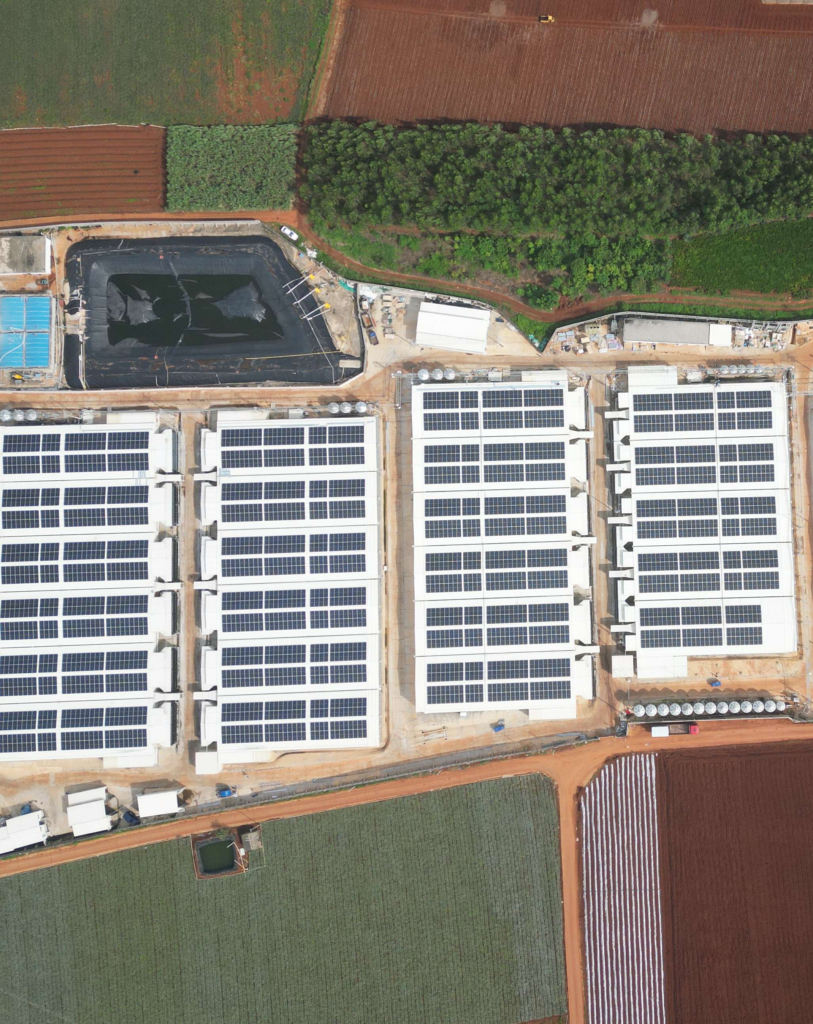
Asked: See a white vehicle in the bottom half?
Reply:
Yes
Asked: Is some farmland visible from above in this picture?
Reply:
Yes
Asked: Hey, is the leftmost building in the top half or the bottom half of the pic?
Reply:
top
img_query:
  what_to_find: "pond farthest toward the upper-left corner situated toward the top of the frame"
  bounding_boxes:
[63,234,362,390]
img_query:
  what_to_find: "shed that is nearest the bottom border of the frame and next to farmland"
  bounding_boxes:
[241,828,262,851]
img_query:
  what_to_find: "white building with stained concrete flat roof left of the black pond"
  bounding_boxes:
[0,236,51,277]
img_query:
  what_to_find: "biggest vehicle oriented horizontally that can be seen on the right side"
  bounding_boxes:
[653,726,701,739]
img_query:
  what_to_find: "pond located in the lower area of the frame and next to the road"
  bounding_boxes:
[194,833,242,876]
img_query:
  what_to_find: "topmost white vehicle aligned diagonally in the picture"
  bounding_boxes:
[280,225,298,240]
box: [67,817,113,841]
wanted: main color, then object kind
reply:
white truck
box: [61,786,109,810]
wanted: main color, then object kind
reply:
white truck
